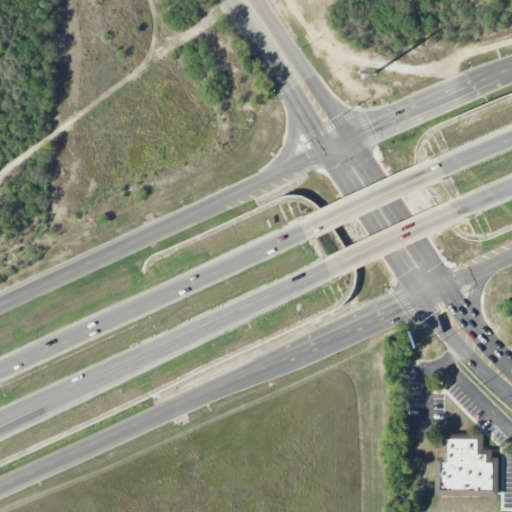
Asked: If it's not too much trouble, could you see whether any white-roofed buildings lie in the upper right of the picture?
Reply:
No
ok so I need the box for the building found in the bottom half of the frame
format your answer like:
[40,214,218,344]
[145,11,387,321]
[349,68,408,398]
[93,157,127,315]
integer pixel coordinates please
[436,434,498,496]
